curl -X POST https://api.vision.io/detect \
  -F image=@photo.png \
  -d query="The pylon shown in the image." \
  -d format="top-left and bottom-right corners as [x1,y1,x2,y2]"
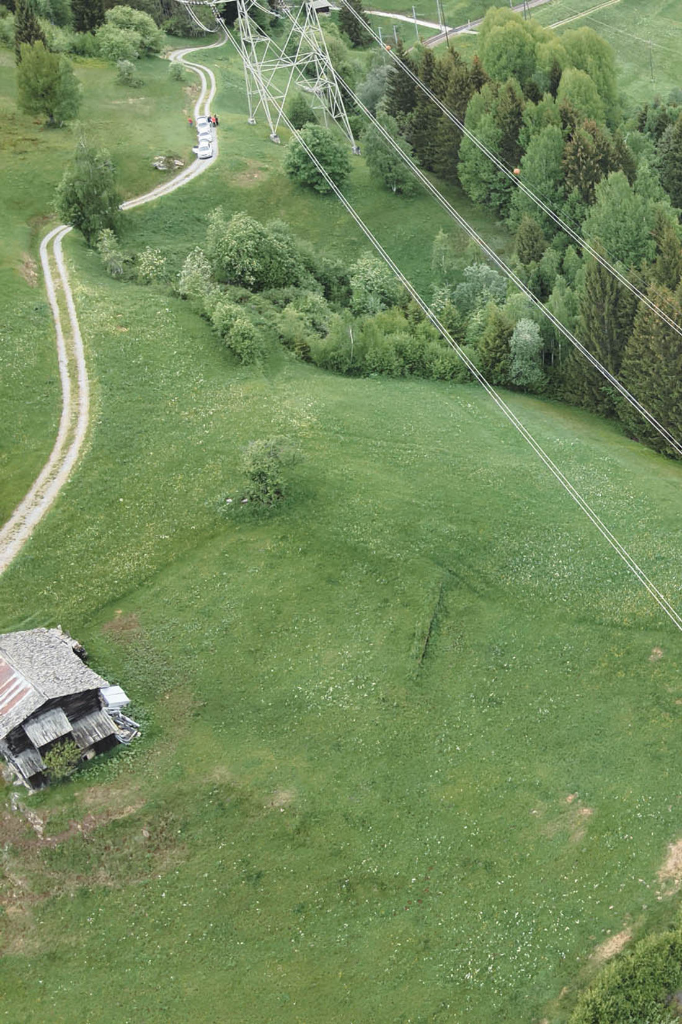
[192,0,361,150]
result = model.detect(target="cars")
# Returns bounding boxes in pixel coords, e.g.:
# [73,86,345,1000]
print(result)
[190,138,212,159]
[195,110,216,127]
[195,124,213,140]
